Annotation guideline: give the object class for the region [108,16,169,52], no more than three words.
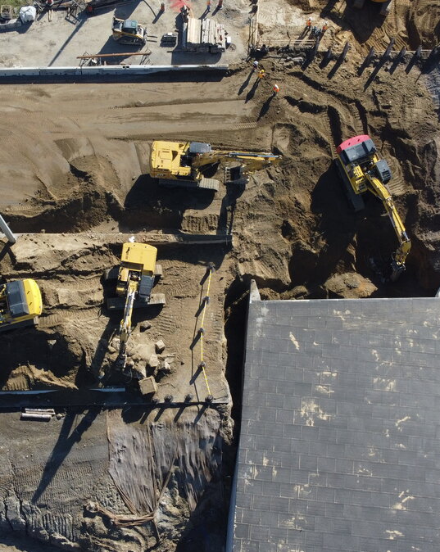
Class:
work vehicle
